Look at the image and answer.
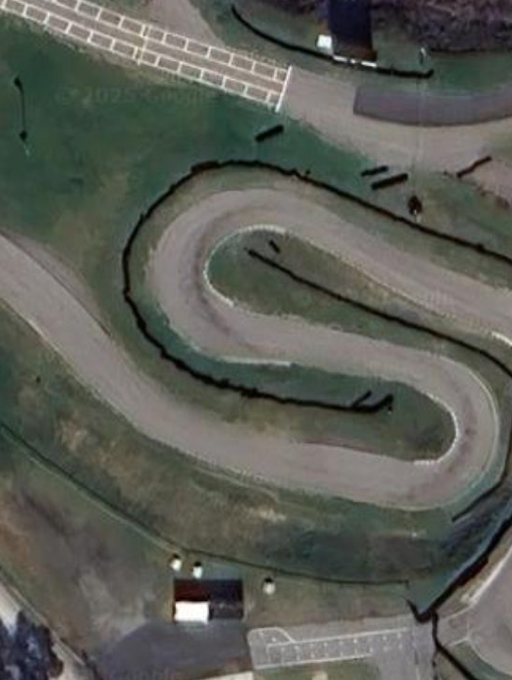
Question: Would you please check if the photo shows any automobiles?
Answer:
No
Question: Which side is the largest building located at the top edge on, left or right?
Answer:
right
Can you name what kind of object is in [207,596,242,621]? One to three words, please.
shed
